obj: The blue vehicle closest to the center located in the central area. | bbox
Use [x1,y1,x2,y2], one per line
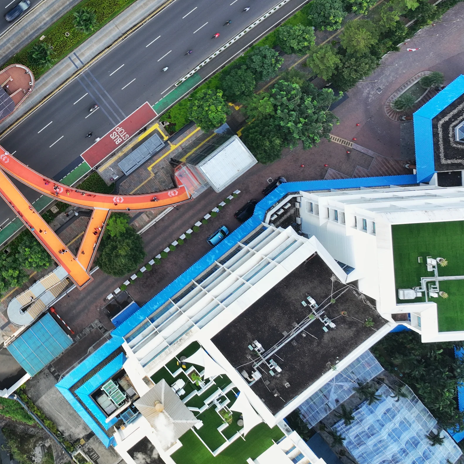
[206,225,229,247]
